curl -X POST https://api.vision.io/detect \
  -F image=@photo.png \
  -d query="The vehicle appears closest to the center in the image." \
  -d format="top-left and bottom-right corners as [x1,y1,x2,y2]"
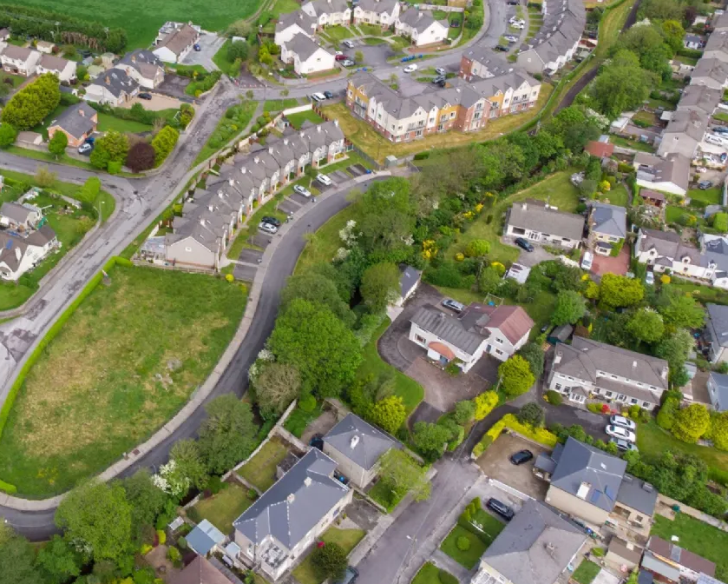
[443,296,463,312]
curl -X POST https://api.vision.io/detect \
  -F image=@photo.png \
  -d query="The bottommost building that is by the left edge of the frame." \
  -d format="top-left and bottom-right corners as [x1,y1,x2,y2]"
[0,221,58,287]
